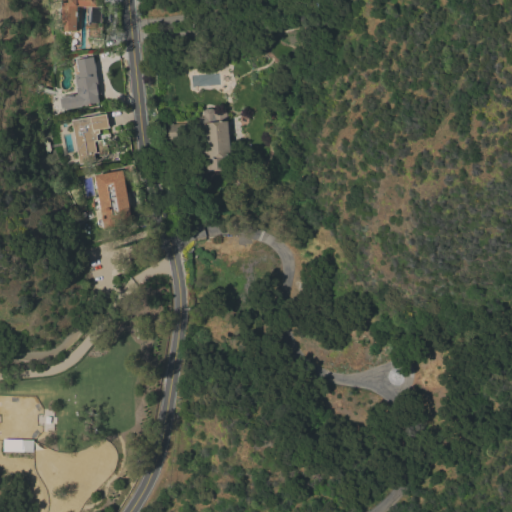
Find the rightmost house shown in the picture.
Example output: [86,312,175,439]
[202,104,230,173]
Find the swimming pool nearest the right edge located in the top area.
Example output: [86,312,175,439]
[192,74,222,87]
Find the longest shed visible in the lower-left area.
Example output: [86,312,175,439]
[3,440,35,453]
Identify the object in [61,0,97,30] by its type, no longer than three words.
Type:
house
